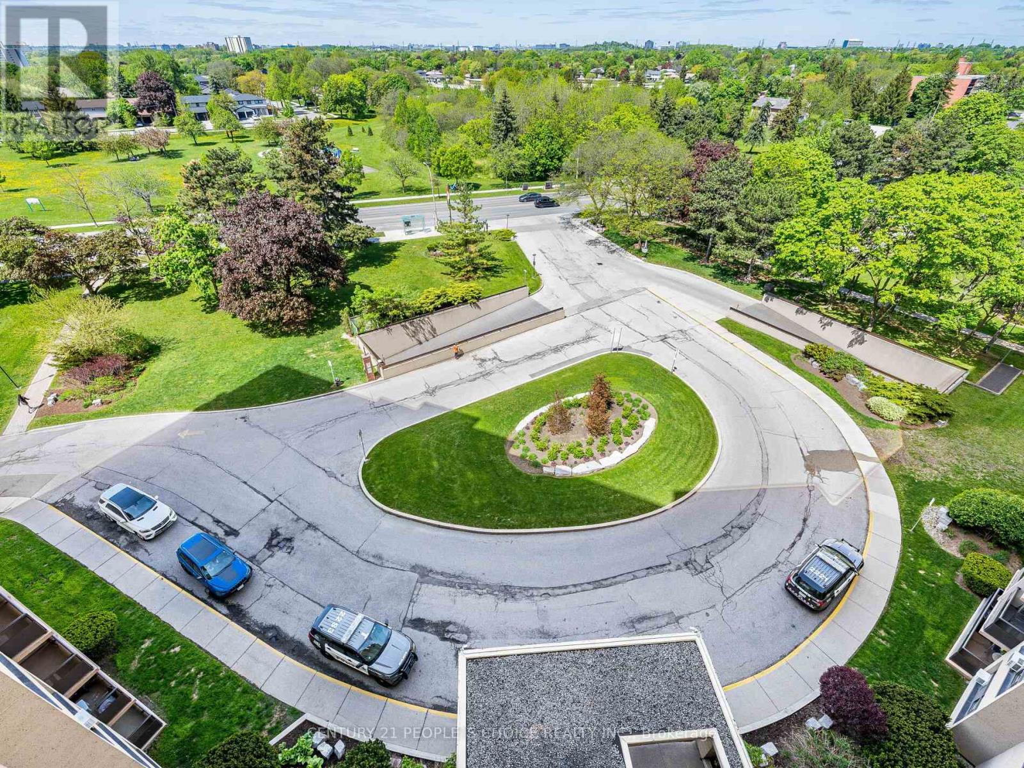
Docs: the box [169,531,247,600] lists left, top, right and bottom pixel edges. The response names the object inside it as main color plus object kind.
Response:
blue car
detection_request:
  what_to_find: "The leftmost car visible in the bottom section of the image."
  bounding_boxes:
[94,483,173,539]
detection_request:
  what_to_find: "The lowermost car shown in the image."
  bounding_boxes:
[311,608,422,691]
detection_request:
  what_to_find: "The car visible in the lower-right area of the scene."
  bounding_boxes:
[788,533,870,608]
